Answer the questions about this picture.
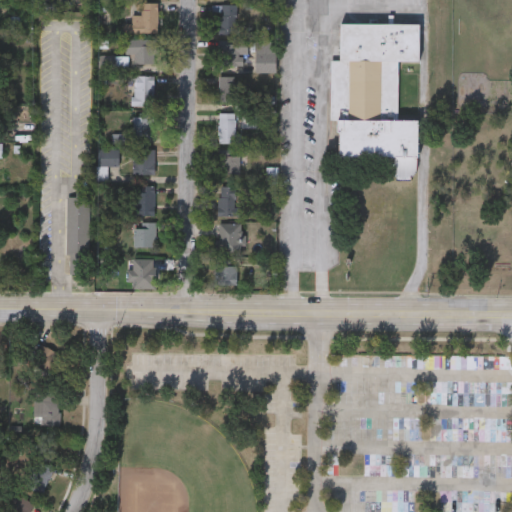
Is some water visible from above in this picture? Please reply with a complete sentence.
No, the scene doesn't show any water.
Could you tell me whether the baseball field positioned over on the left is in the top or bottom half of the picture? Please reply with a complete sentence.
Seen from above, the baseball field positioned over on the left lies in the bottom half of the view.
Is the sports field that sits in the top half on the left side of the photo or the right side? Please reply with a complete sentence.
You can find the sports field that sits in the top half on the right side of the picture.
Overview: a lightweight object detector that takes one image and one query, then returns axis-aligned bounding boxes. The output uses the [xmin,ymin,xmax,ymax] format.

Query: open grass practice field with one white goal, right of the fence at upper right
[456,0,512,80]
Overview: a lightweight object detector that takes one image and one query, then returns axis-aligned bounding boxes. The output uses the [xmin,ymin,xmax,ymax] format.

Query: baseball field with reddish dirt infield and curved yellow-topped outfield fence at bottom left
[120,400,254,512]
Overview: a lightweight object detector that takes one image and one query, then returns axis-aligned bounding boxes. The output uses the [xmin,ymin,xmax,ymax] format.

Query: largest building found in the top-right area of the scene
[332,15,420,180]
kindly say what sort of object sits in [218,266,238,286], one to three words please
house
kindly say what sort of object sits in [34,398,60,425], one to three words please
house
